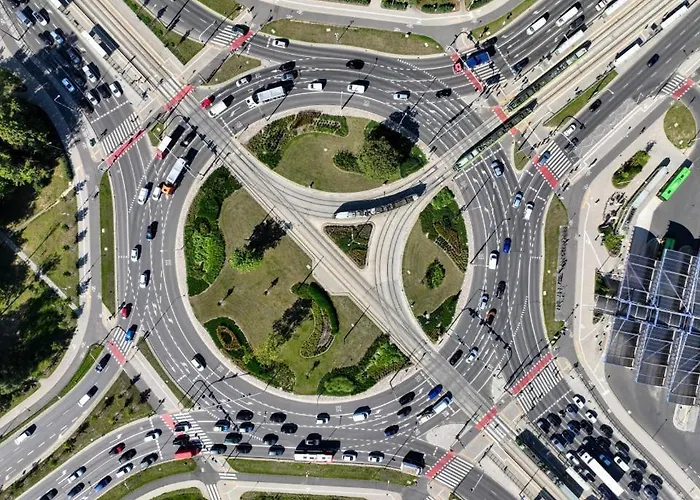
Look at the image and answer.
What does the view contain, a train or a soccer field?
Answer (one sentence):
This aerial view contains a train.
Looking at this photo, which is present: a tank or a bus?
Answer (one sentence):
The image shows a bus.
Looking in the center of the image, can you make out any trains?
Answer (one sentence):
Yes, in the center of the image there is a train.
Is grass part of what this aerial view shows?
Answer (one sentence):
Yes, there's grass in this view.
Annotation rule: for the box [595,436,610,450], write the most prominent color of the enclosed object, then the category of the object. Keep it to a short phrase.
black car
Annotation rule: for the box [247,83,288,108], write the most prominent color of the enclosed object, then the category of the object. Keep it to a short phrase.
white truck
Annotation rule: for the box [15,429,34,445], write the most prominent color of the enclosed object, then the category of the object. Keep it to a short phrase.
white vehicle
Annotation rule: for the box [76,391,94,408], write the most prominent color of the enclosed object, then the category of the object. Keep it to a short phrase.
white vehicle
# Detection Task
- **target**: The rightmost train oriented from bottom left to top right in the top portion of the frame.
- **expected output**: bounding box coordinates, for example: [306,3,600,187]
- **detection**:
[503,44,591,115]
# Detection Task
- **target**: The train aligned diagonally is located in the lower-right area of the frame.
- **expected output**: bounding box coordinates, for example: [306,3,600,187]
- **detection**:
[511,433,581,500]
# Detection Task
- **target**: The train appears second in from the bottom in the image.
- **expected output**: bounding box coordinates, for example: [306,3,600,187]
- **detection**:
[336,192,419,220]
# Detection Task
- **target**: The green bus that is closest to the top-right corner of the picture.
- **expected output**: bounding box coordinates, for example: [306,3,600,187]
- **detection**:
[656,166,688,200]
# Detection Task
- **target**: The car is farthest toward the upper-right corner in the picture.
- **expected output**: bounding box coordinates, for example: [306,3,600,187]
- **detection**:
[645,53,660,68]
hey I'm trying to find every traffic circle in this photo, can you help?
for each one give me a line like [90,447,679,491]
[116,43,549,472]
